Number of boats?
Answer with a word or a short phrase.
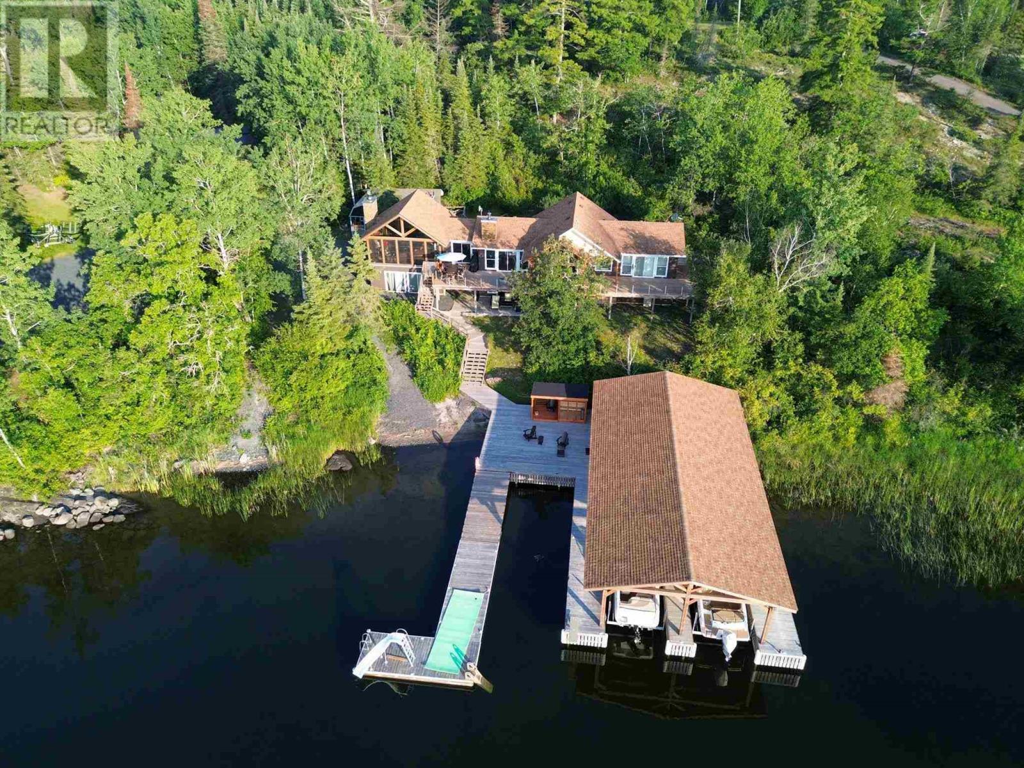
two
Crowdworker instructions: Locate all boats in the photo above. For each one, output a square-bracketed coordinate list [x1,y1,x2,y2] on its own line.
[694,588,749,664]
[612,588,662,654]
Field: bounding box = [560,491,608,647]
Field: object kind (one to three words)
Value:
pier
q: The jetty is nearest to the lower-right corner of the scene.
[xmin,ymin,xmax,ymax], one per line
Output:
[745,601,810,671]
